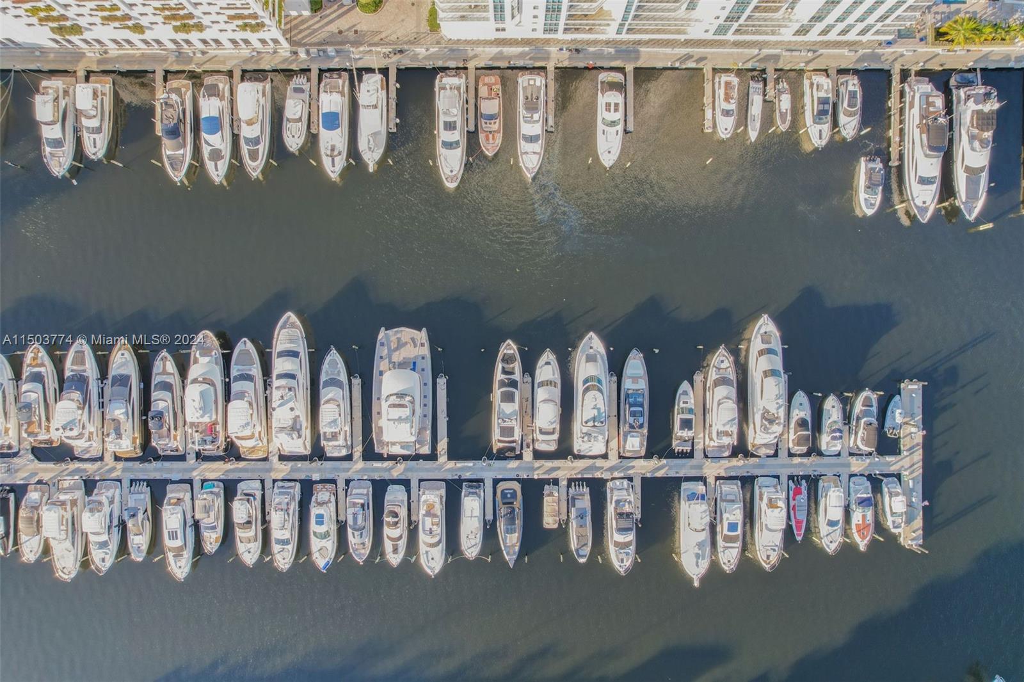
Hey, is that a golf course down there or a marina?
marina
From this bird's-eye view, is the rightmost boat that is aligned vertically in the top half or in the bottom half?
top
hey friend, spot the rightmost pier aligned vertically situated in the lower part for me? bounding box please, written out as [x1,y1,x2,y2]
[899,382,923,544]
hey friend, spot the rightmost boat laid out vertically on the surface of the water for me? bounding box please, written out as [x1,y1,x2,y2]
[946,67,999,223]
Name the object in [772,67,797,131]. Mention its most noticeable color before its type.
white boat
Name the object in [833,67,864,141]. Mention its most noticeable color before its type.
white boat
